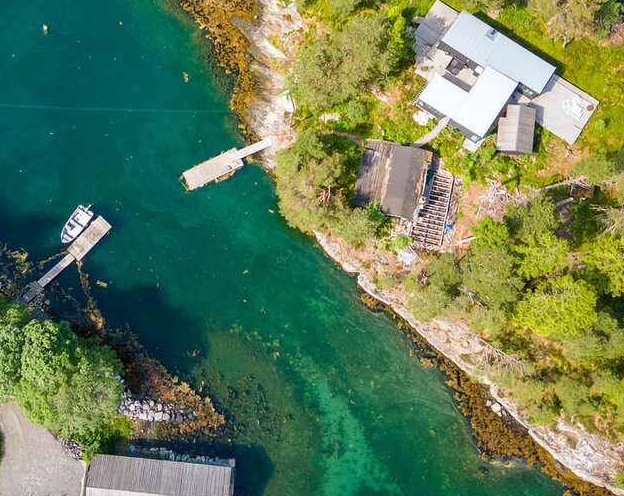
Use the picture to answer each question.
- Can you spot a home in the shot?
Yes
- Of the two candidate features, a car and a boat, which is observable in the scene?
boat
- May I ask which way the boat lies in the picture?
diagonally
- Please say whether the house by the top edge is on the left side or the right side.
right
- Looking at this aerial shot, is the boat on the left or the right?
left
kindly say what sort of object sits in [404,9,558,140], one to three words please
house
